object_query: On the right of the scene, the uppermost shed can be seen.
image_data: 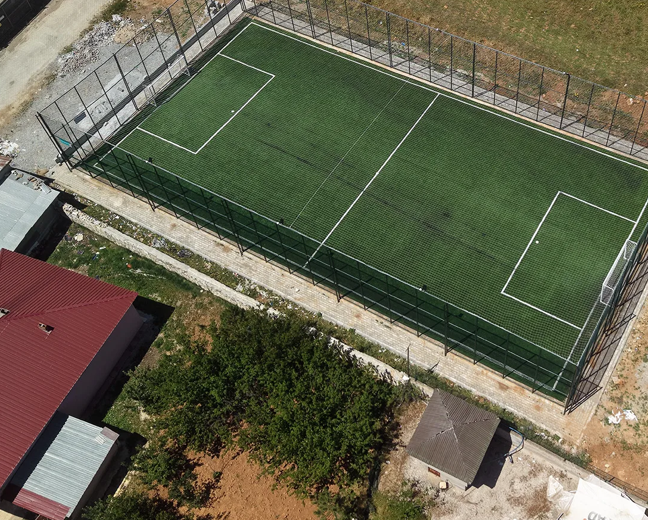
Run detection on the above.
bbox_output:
[406,390,500,493]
